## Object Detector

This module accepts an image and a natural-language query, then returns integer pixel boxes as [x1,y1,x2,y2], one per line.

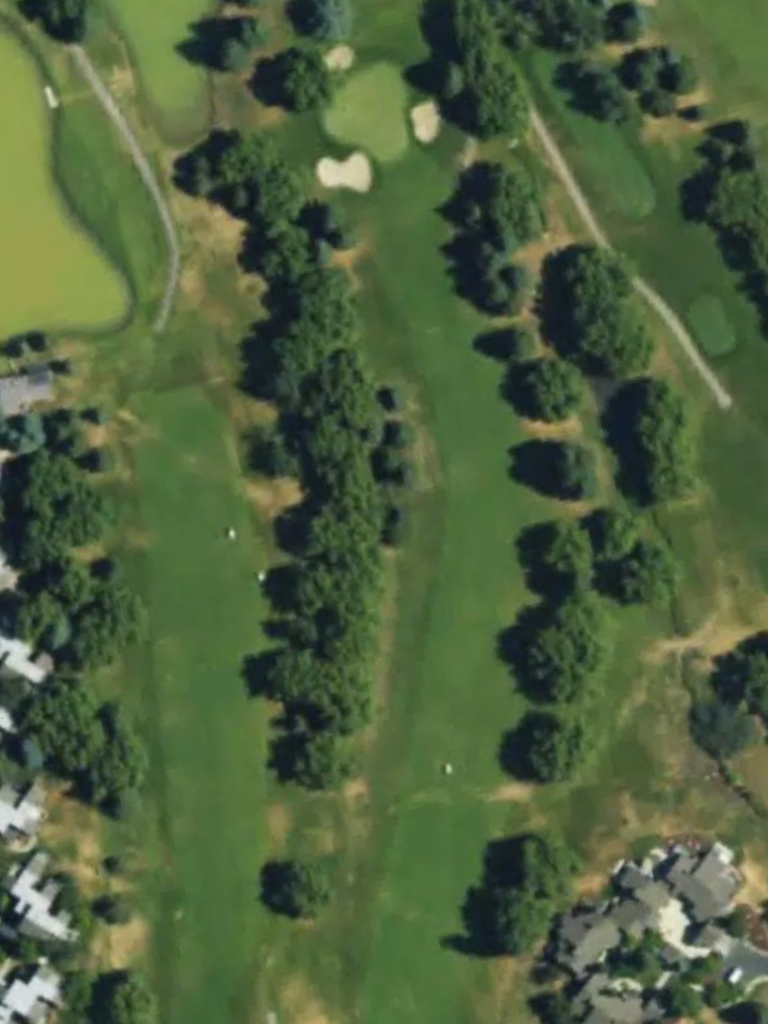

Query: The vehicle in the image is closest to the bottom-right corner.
[730,967,742,983]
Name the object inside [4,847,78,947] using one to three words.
house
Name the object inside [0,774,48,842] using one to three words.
house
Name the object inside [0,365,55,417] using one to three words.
shed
